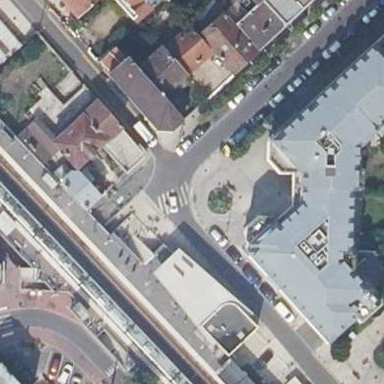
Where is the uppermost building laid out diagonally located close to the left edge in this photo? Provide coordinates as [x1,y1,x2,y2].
[0,0,31,35]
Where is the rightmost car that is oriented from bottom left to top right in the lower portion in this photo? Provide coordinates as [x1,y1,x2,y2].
[256,345,276,365]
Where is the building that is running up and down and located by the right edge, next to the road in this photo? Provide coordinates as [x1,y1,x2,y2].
[246,32,384,346]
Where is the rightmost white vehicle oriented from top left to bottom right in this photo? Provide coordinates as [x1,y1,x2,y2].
[275,300,295,320]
